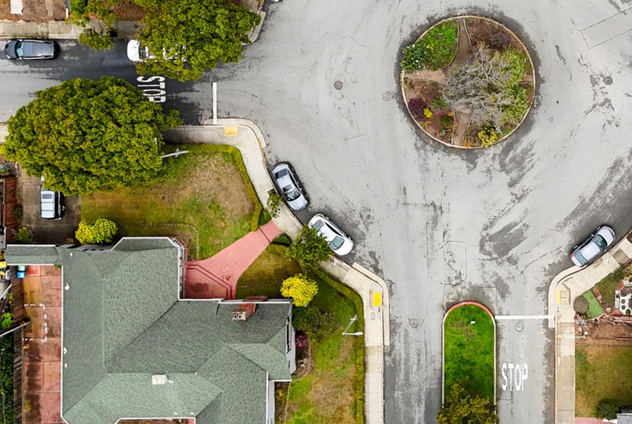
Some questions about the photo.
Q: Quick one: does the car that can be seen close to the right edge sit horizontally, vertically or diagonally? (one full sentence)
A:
The car that can be seen close to the right edge is oriented diagonally.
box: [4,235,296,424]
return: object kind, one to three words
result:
house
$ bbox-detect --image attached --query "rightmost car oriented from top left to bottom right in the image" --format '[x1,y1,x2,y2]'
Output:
[307,208,356,257]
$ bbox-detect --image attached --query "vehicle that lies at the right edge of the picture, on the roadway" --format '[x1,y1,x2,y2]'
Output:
[567,221,618,269]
